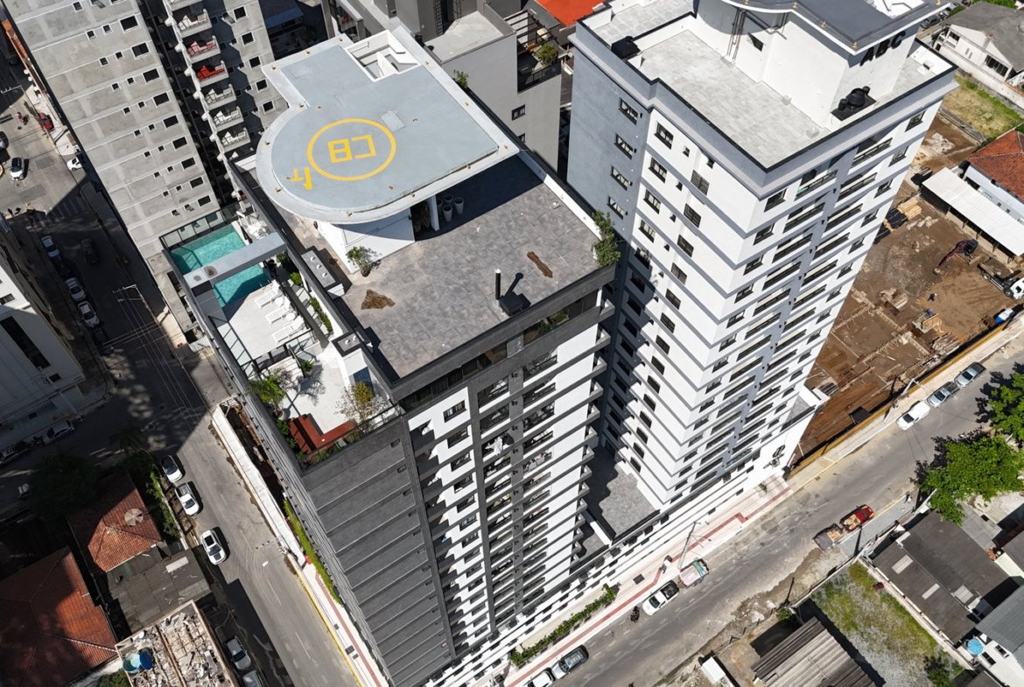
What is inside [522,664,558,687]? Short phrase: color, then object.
white car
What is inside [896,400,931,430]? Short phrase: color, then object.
white car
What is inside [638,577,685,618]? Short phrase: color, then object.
white truck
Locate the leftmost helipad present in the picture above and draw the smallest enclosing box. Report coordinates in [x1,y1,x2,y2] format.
[257,26,521,225]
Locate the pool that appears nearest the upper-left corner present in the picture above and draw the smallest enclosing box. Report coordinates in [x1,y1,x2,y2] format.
[171,222,269,304]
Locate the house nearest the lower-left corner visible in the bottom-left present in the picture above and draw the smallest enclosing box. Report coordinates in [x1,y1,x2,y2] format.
[0,547,130,687]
